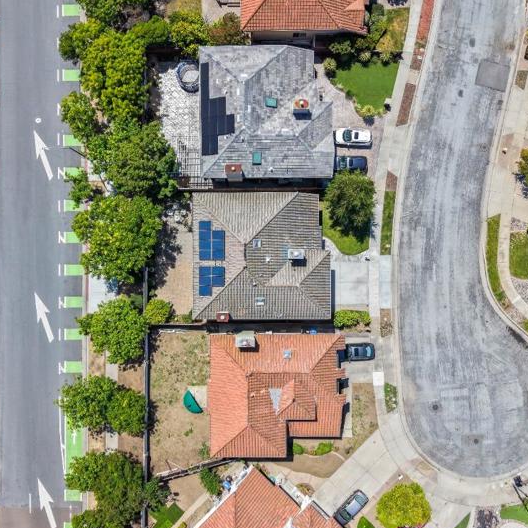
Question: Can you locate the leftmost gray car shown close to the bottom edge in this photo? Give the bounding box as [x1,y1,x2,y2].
[333,489,370,527]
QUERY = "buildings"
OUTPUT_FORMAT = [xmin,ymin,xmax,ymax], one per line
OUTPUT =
[209,329,346,459]
[191,190,332,322]
[194,462,345,528]
[240,0,371,40]
[199,44,334,178]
